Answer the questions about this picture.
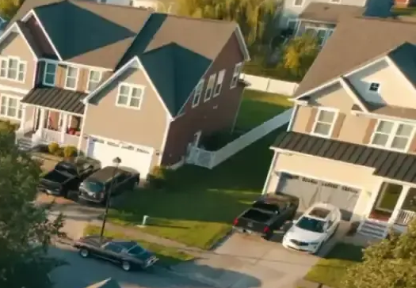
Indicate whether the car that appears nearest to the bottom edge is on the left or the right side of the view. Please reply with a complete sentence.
The car that appears nearest to the bottom edge appears in the left half of the scene.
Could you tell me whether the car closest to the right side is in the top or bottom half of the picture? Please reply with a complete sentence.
It is in the bottom half that the car closest to the right side appears.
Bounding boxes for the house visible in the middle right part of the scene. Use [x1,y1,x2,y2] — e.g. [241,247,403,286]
[261,16,416,235]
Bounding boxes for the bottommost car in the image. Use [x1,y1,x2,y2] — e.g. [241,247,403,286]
[76,235,158,272]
